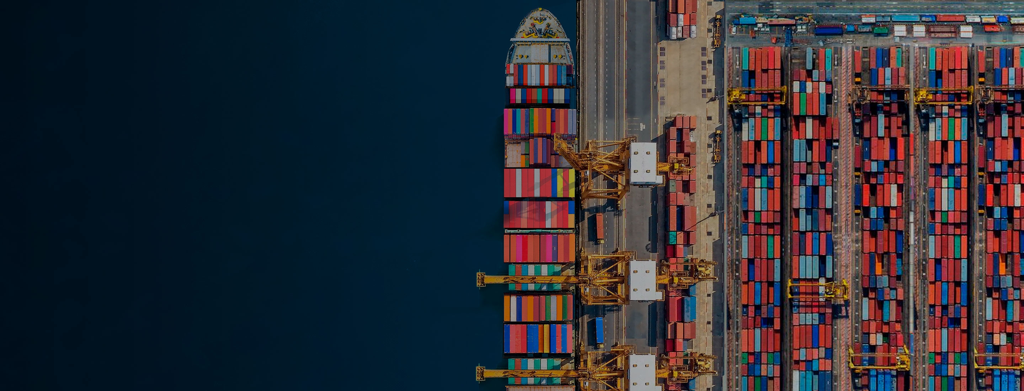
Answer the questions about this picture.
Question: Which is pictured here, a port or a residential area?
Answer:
port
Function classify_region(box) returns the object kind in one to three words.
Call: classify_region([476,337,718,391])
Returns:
container crane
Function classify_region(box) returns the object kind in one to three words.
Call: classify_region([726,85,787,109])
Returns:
container crane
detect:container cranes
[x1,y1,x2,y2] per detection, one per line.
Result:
[910,85,974,109]
[967,349,1024,369]
[847,85,912,107]
[969,85,1024,107]
[476,250,718,307]
[476,337,718,391]
[550,130,694,190]
[726,85,787,109]
[846,349,913,369]
[786,279,848,300]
